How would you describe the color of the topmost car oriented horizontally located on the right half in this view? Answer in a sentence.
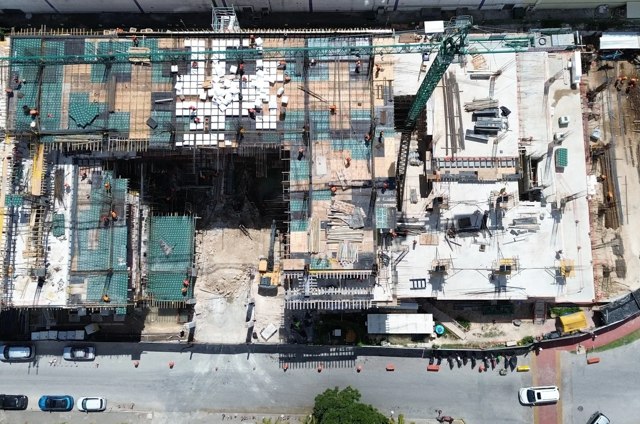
The color of the topmost car oriented horizontally located on the right half is white.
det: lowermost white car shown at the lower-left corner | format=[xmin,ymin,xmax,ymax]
[78,396,107,412]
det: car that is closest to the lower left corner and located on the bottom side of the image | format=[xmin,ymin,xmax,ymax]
[0,393,29,411]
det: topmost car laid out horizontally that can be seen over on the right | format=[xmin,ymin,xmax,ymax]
[519,386,558,405]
